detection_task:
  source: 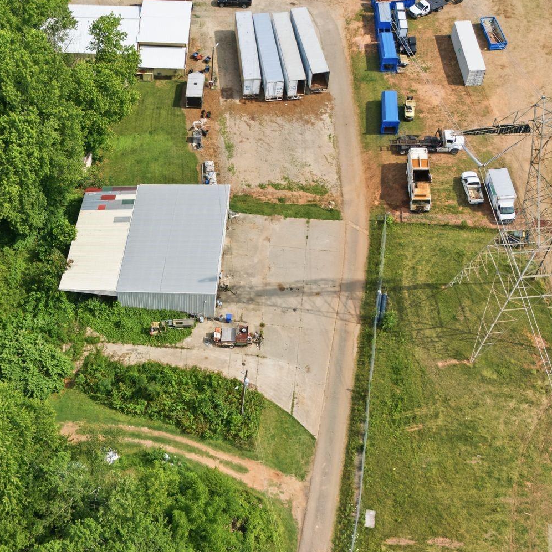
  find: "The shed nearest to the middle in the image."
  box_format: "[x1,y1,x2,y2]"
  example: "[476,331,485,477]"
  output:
[116,182,231,319]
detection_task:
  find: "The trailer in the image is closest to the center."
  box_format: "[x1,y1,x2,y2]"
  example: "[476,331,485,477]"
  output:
[204,326,255,347]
